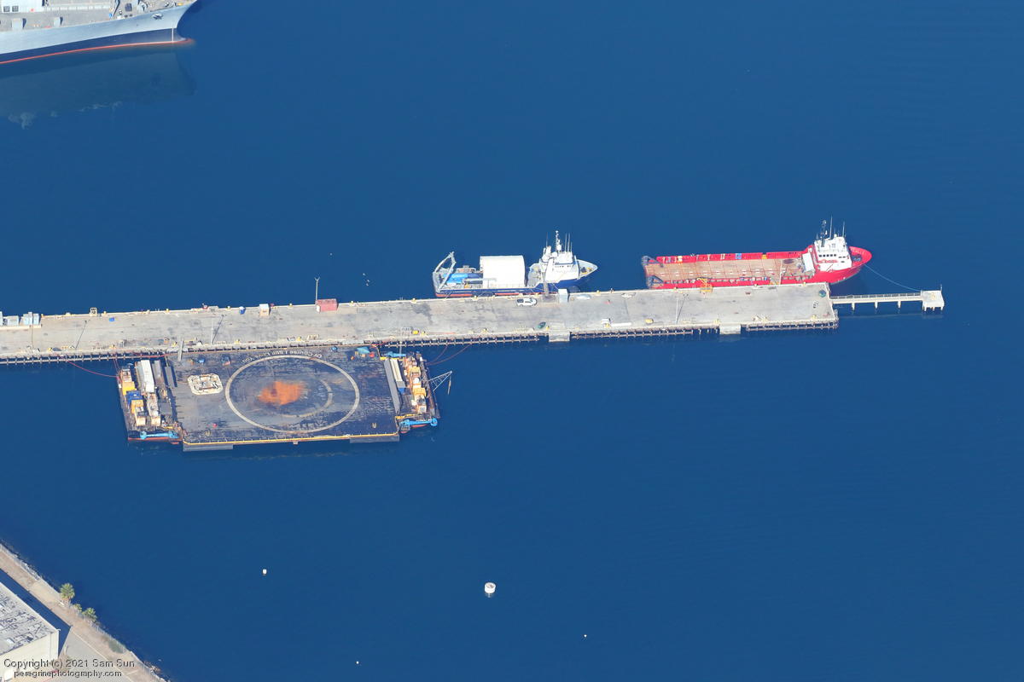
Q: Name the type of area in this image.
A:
port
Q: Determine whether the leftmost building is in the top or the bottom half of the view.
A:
bottom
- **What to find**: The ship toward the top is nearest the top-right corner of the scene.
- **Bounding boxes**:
[643,217,873,290]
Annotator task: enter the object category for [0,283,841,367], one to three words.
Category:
pier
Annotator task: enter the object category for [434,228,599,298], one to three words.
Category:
ship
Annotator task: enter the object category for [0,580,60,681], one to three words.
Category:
building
